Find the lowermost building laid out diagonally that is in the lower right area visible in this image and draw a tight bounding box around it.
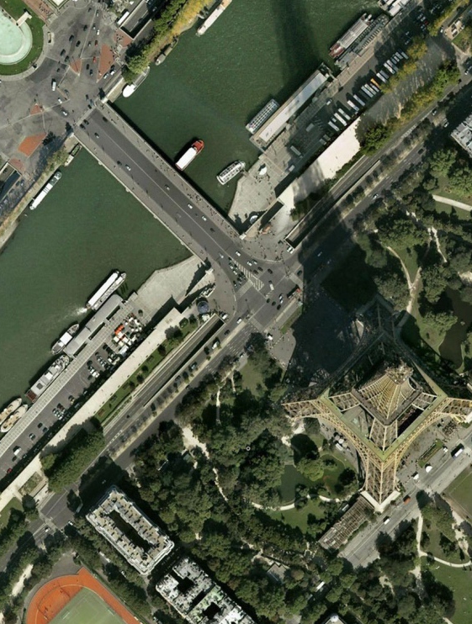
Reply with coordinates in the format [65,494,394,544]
[320,498,374,549]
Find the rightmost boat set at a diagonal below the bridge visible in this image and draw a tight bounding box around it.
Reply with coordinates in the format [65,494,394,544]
[86,270,124,310]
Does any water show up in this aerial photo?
Yes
